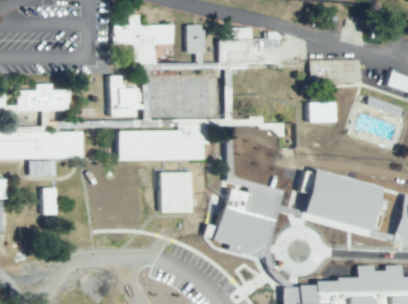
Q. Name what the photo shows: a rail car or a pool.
pool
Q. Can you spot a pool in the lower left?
No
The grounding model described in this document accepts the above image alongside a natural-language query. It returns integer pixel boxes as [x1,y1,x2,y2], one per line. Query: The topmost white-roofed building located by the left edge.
[0,83,84,160]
